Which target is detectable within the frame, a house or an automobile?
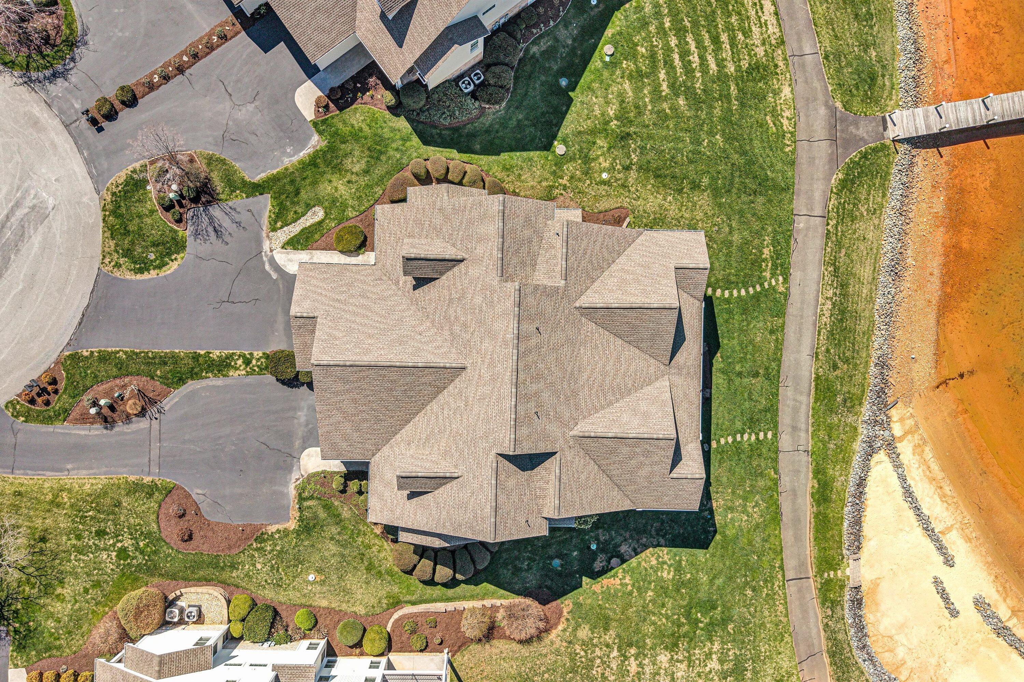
house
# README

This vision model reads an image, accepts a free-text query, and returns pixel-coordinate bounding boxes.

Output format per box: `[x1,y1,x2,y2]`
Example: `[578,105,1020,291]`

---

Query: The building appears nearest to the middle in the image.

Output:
[289,184,710,547]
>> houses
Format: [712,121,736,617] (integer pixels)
[232,0,547,95]
[289,184,710,547]
[94,627,451,682]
